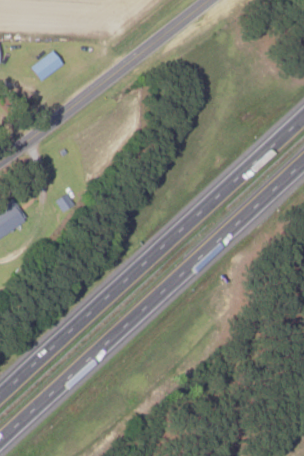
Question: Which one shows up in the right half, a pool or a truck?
truck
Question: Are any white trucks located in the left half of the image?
Yes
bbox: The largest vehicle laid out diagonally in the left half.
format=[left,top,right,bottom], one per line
[66,348,107,387]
